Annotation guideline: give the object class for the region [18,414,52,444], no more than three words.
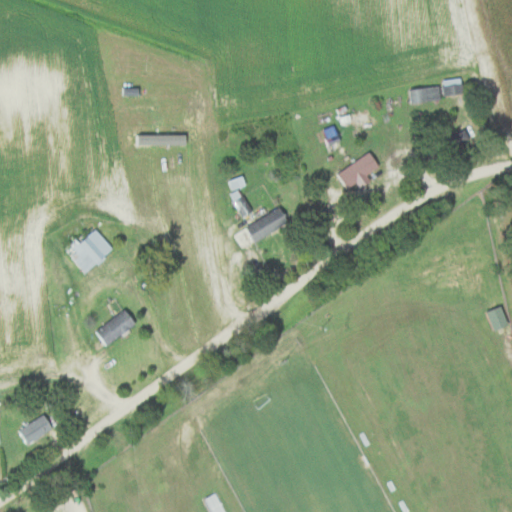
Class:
house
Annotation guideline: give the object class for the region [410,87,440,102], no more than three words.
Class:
shed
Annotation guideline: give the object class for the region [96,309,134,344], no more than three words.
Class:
house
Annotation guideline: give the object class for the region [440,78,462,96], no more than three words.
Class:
shed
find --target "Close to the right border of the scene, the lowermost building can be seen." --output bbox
[486,307,508,330]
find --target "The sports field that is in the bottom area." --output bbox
[200,352,394,512]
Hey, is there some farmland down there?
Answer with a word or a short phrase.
Yes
